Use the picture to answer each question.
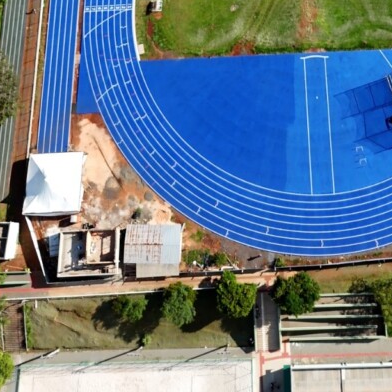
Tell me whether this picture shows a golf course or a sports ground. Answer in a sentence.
It's a sports ground.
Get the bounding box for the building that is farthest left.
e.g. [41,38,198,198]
[0,220,25,260]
